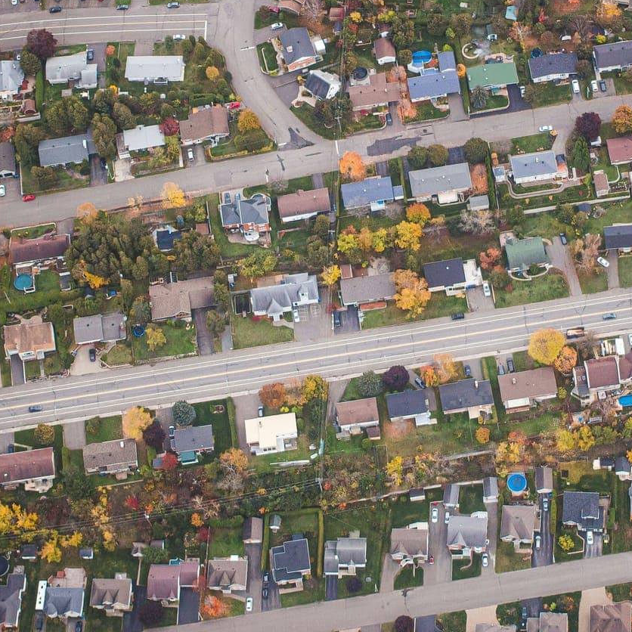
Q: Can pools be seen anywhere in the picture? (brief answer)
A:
Yes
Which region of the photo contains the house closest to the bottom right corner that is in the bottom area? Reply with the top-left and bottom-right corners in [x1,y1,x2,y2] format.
[588,600,631,632]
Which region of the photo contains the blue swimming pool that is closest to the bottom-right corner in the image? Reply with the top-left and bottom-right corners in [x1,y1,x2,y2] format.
[508,474,527,493]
